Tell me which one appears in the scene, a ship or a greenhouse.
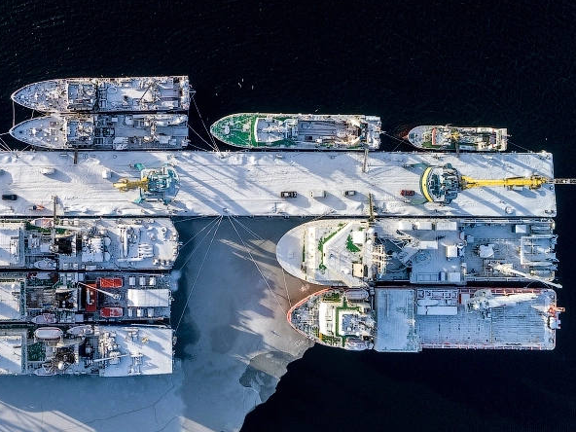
ship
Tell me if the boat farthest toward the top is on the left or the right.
left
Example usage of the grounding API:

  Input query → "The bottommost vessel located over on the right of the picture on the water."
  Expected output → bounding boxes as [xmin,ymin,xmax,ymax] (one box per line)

[287,285,563,354]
